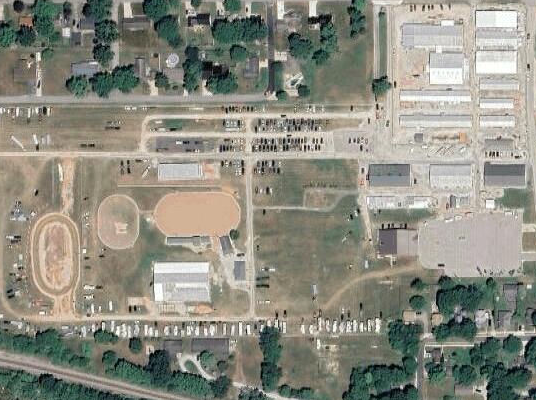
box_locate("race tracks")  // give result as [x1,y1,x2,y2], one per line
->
[29,212,81,298]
